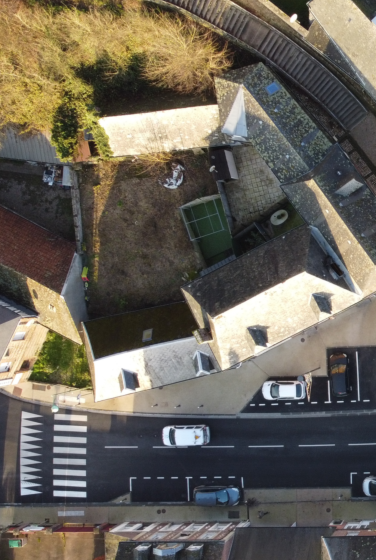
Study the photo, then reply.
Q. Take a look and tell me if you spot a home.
Yes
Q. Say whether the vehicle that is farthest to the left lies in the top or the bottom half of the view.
bottom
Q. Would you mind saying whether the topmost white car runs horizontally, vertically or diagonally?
horizontally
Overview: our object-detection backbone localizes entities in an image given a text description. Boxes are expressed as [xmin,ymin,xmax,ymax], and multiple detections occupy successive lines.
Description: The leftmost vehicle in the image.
[163,424,214,447]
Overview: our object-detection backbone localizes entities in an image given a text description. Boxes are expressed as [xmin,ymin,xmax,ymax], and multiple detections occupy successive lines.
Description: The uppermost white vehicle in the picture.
[262,380,307,402]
